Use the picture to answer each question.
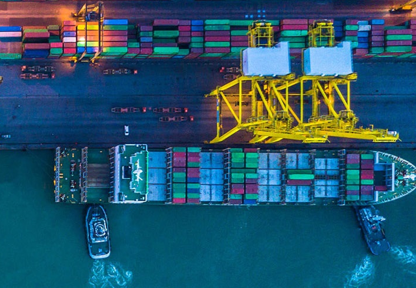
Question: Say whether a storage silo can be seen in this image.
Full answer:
No, the photo shows no storage silo.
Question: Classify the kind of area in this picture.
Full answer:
This looks like a port.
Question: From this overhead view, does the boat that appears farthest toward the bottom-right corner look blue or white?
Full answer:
The boat that appears farthest toward the bottom-right corner is blue.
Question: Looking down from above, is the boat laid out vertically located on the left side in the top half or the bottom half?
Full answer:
The boat laid out vertically located on the left side sits in the bottom half of the picture.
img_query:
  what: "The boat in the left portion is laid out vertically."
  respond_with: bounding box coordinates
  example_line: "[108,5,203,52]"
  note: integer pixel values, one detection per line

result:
[85,206,110,259]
